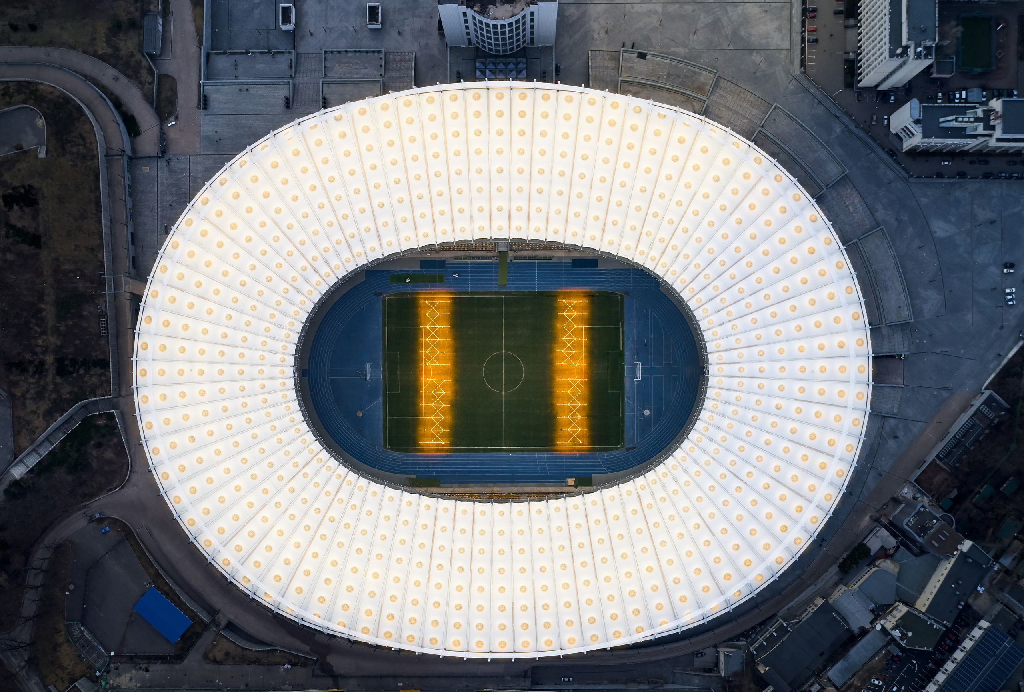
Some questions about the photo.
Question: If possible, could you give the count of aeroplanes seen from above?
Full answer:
No aeroplanes are visible.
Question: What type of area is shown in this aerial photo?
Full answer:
It's a sports ground.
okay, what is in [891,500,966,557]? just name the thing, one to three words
building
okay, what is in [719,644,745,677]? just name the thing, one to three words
building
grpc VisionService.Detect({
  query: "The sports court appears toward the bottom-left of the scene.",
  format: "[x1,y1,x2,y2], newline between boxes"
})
[66,614,111,675]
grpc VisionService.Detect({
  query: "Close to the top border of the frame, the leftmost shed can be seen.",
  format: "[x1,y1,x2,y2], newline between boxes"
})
[142,13,165,59]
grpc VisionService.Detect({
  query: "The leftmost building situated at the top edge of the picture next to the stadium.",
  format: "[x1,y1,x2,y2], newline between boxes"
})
[436,0,558,60]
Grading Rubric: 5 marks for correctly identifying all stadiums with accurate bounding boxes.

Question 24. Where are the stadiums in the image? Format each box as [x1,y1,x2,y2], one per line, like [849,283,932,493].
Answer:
[130,77,872,665]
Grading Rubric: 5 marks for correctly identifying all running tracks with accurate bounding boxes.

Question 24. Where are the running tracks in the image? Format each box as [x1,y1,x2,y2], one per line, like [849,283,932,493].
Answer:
[298,258,705,484]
